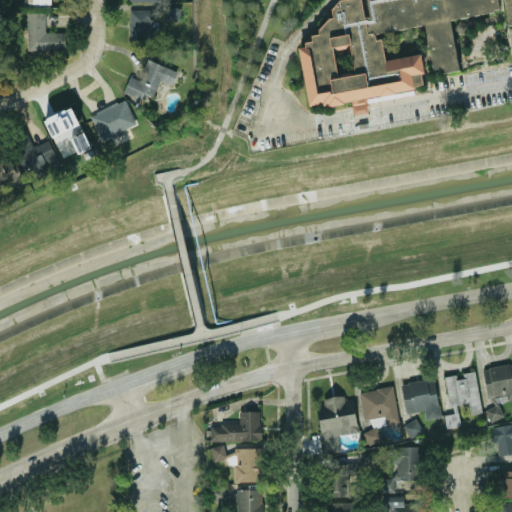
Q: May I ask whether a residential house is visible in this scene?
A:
Yes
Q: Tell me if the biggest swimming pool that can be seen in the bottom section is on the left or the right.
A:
right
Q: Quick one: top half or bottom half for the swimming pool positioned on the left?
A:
top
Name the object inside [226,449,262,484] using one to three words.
house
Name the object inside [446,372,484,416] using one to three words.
house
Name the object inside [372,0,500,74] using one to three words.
building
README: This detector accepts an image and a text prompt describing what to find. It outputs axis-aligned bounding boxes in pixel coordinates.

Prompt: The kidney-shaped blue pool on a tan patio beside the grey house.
[156,82,182,115]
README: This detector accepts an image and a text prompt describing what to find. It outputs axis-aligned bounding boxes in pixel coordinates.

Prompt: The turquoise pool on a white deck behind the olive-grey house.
[340,430,362,452]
